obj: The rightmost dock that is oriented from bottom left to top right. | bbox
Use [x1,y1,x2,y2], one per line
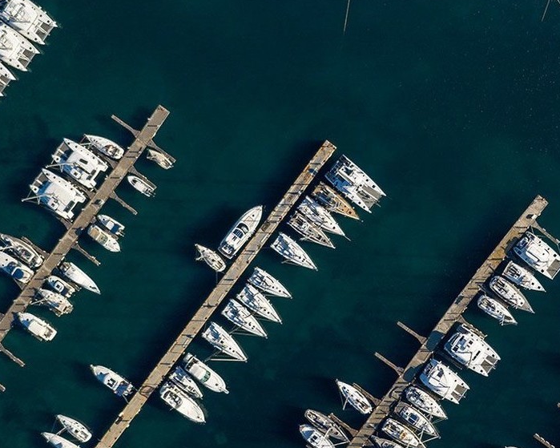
[306,195,559,448]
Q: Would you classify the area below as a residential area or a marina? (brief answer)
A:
marina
